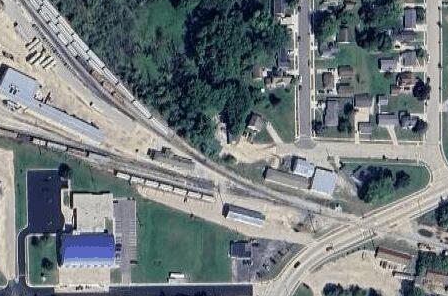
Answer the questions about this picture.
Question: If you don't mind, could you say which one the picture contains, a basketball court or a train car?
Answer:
train car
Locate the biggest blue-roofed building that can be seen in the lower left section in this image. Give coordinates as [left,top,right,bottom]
[61,232,116,268]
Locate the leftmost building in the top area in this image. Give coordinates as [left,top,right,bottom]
[0,67,37,104]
